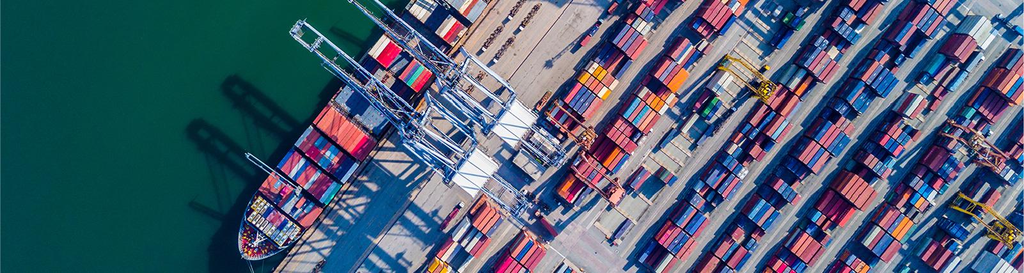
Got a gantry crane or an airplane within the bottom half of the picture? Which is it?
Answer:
gantry crane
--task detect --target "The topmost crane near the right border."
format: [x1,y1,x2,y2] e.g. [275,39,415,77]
[930,119,1017,173]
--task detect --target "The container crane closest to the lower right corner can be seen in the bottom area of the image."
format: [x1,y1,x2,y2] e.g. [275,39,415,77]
[941,191,1024,250]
